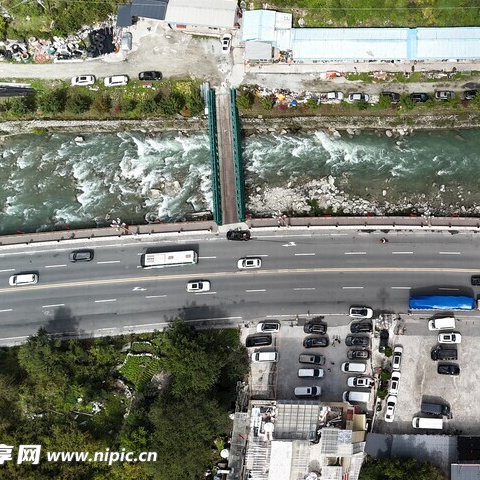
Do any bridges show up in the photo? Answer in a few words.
Yes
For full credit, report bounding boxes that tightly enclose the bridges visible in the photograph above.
[208,77,250,228]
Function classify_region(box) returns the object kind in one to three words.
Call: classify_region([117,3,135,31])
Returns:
shed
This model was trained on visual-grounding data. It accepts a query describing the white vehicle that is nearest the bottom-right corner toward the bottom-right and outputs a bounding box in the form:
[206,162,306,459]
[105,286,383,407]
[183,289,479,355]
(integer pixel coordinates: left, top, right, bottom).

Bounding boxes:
[413,417,443,430]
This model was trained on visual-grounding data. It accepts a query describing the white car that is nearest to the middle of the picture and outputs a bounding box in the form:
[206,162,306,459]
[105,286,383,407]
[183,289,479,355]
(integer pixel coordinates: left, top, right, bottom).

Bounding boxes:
[237,257,262,269]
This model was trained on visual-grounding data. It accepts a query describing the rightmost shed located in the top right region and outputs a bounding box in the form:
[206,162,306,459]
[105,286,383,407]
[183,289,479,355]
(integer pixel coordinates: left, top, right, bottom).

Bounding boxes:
[292,27,480,66]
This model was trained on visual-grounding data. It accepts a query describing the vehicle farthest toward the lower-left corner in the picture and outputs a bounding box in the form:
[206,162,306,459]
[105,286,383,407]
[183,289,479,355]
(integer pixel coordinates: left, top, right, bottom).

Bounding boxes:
[10,272,38,285]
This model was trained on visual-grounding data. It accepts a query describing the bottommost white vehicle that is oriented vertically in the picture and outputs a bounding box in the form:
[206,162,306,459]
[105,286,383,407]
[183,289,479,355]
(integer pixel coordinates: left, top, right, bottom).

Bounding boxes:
[384,395,398,423]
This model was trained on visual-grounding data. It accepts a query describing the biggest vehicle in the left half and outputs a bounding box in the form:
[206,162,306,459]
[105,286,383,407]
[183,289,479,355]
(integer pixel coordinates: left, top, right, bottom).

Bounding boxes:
[138,249,201,267]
